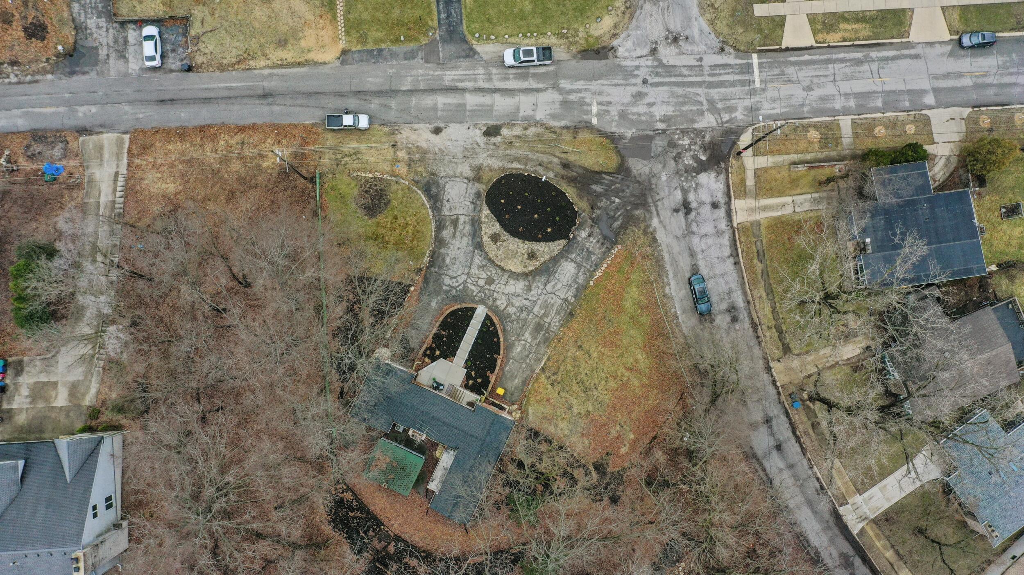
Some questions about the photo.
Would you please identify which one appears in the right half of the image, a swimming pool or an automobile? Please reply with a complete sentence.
The feature located in the right half of the image is an automobile.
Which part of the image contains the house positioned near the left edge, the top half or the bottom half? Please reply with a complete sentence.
The house positioned near the left edge is in the bottom half of the image.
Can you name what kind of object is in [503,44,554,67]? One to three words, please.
truck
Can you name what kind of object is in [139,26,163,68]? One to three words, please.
car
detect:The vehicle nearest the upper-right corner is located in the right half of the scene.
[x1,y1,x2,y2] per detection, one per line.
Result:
[957,29,999,50]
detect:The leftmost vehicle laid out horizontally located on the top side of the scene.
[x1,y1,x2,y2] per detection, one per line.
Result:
[324,110,371,131]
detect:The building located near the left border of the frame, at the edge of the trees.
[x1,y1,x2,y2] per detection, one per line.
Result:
[0,435,129,575]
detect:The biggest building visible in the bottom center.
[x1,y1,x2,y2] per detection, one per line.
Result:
[349,360,515,525]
